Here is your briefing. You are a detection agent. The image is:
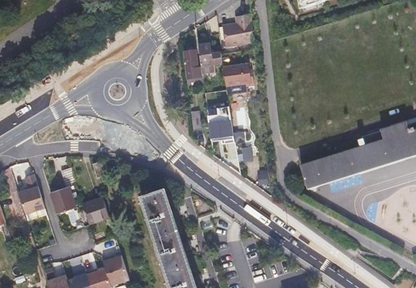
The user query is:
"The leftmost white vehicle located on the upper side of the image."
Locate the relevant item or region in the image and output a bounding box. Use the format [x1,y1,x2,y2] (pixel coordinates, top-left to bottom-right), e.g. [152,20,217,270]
[16,102,32,116]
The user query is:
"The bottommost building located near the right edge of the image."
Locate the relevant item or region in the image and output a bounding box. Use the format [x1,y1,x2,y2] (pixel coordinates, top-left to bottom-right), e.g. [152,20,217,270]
[300,121,416,190]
